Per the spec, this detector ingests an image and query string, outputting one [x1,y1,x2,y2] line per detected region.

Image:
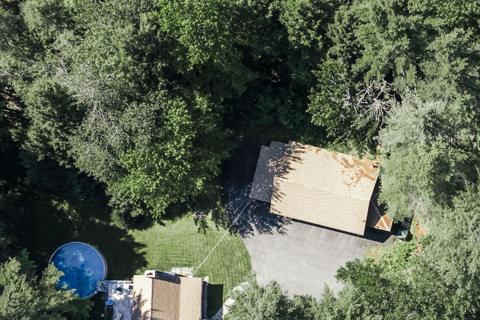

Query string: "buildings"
[133,269,205,320]
[249,140,391,236]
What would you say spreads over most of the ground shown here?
trees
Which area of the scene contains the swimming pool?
bottom left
